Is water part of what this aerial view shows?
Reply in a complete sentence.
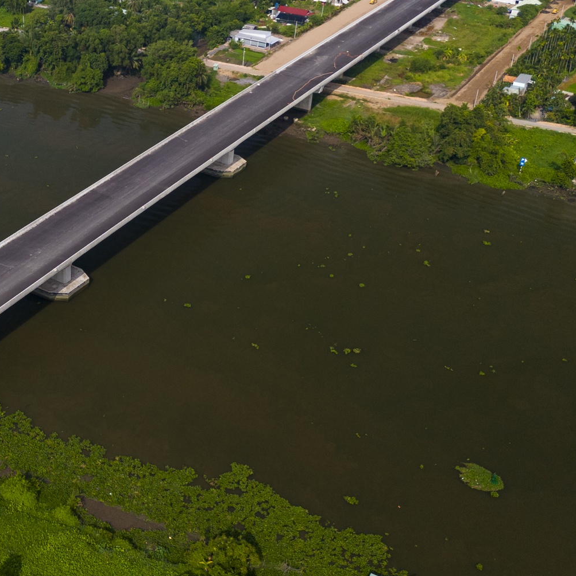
Yes, the picture does contain water.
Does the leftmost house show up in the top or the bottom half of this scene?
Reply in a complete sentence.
The top half of the photo is where the leftmost house is.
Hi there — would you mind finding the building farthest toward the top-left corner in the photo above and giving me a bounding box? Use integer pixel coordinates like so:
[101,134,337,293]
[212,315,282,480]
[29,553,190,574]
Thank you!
[236,23,278,47]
